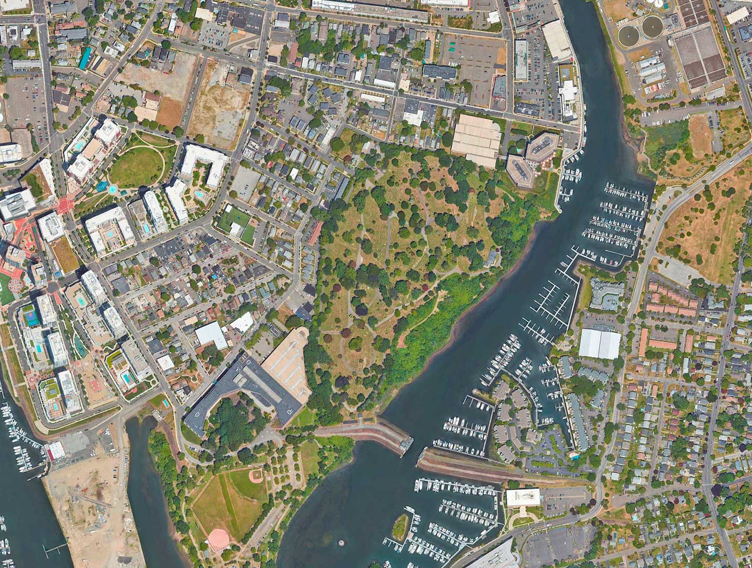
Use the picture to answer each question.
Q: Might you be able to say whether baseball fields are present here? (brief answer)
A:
Yes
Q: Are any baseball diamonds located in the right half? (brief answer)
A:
No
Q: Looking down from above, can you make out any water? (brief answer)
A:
Yes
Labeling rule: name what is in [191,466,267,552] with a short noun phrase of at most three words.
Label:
baseball field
